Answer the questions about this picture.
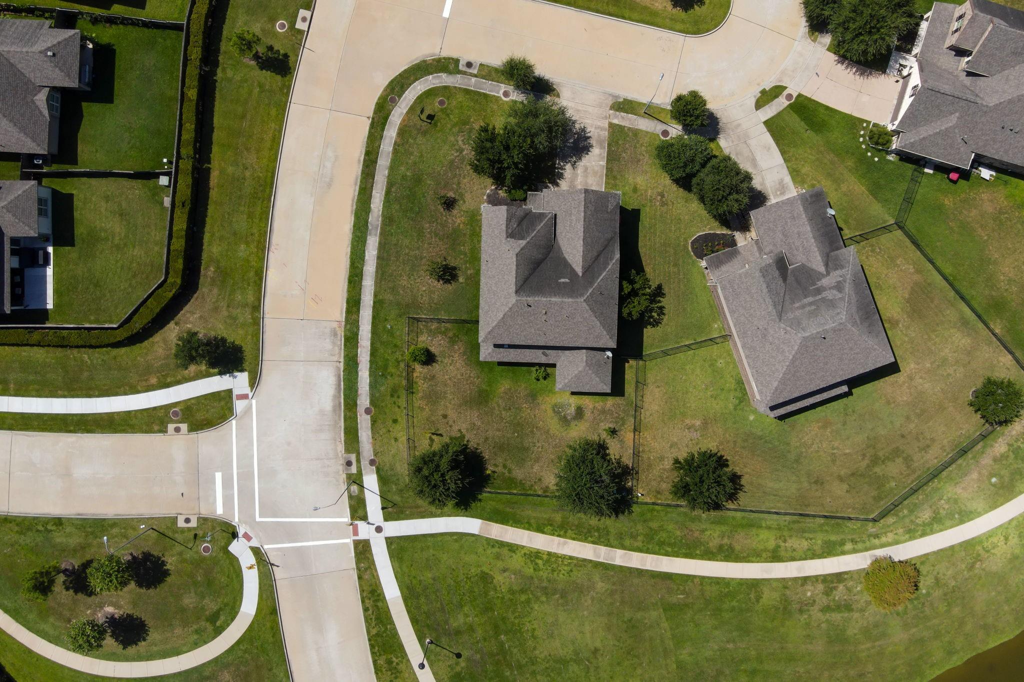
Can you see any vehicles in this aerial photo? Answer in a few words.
No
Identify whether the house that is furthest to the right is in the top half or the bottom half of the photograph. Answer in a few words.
top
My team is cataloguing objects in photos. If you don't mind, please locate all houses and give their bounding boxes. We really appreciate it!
[887,0,1024,174]
[479,188,621,393]
[0,19,95,155]
[703,187,895,418]
[0,180,54,313]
